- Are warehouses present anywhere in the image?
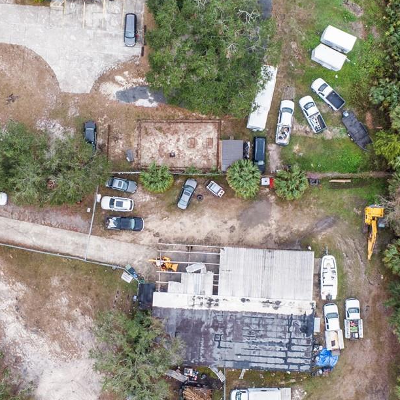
Yes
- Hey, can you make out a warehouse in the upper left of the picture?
No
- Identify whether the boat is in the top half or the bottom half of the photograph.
bottom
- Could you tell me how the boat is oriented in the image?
vertically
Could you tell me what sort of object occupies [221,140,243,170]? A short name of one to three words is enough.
shed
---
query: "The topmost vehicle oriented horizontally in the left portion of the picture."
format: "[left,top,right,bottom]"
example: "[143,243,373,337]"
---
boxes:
[105,176,138,193]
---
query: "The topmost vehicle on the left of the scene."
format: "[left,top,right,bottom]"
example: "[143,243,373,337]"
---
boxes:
[122,14,138,47]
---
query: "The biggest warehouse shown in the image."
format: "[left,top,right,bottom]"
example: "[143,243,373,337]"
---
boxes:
[152,247,319,371]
